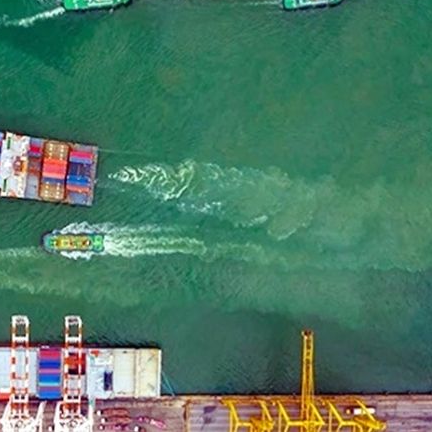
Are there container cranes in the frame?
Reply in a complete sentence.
Yes, the frame does contain a container crane.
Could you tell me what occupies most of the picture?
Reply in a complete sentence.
For the most part, this view shows water.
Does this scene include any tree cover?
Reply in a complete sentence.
No, there's no tree cover in this view.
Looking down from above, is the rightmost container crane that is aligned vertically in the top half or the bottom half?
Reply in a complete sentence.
You can find the rightmost container crane that is aligned vertically in the bottom half.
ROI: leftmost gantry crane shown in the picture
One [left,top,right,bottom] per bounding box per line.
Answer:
[0,313,46,432]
